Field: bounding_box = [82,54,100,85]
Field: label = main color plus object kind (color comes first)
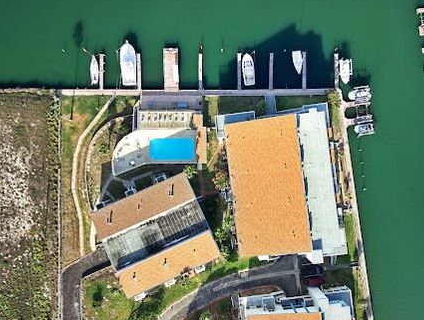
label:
white boat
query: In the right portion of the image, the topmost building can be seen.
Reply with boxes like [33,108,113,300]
[215,101,349,267]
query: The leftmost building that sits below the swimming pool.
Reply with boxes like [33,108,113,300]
[90,171,221,298]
